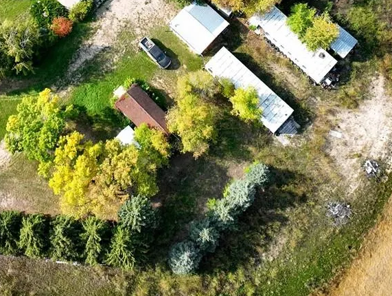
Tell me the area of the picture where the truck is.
top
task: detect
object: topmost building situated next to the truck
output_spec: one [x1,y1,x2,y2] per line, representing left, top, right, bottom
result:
[168,0,230,58]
